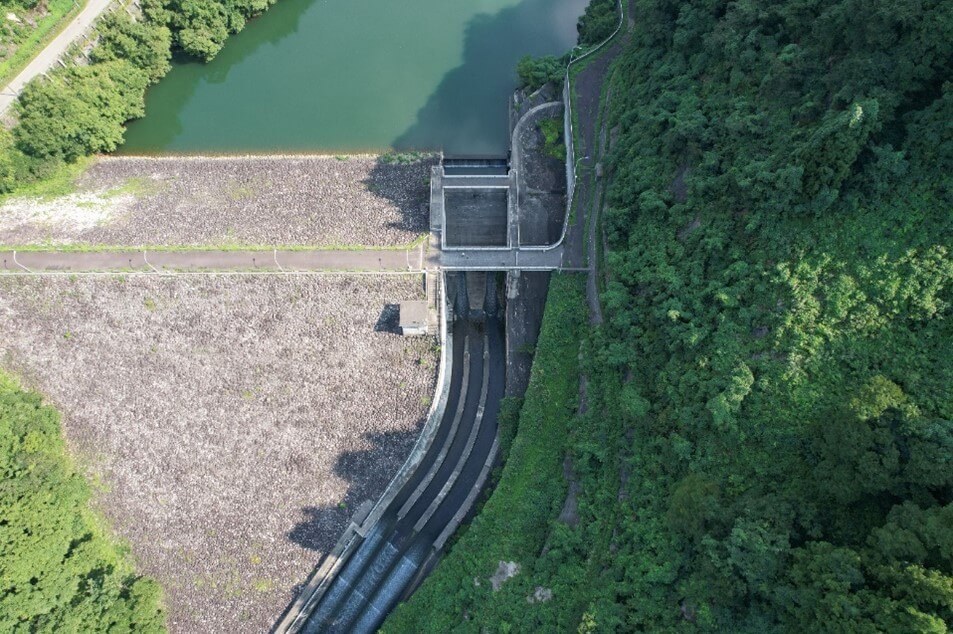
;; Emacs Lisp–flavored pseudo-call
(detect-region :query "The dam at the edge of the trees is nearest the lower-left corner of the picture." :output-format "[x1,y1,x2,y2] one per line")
[0,151,441,634]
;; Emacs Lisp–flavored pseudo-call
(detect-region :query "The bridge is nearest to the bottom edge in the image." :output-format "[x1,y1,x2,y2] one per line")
[438,243,591,274]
